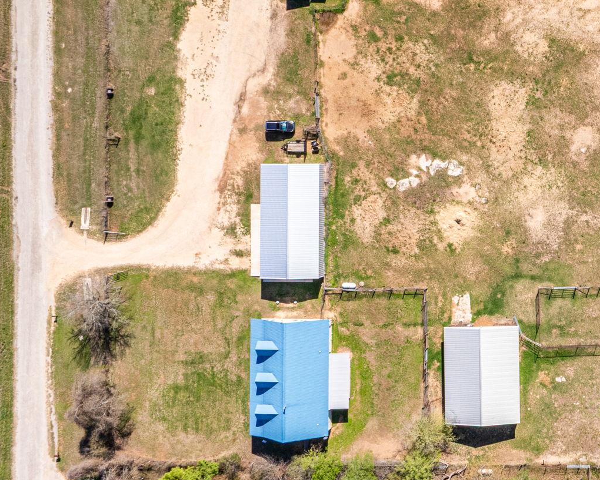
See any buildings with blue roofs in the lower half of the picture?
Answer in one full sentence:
Yes, the scene does show a building with a blue roof in the lower half of the picture.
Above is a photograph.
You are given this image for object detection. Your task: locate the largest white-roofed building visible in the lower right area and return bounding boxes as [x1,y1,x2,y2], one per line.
[445,325,520,427]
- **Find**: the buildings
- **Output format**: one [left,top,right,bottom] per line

[260,162,325,281]
[445,325,520,427]
[248,316,349,442]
